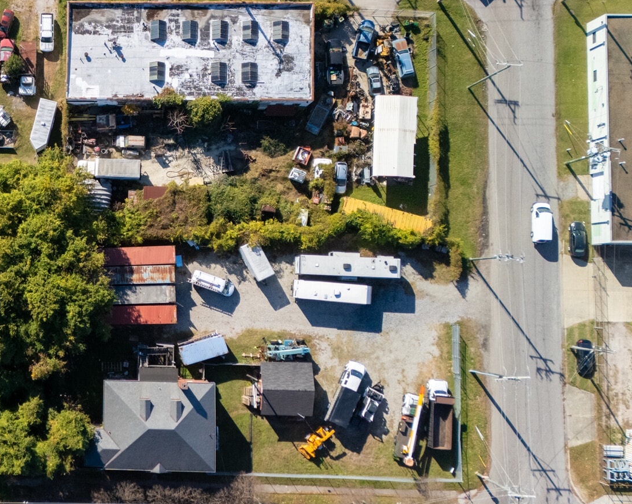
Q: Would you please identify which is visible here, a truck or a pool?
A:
truck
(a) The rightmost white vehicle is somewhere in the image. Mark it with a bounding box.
[526,204,550,244]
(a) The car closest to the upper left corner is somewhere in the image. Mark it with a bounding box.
[0,6,14,39]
